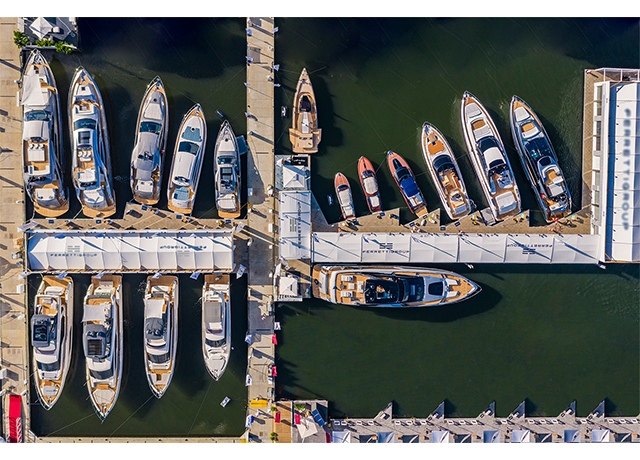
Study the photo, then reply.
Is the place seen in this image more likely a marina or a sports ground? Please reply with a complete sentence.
The picture captures a marina.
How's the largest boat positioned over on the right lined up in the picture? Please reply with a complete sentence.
From this overhead view, the largest boat positioned over on the right appears to run from left to right.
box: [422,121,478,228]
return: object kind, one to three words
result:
boat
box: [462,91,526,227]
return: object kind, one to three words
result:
boat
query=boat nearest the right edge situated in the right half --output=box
[512,96,579,228]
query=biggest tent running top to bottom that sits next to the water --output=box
[279,191,311,263]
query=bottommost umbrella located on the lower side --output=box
[301,414,325,440]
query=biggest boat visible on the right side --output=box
[312,264,482,309]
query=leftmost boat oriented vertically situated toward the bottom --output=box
[29,272,75,410]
